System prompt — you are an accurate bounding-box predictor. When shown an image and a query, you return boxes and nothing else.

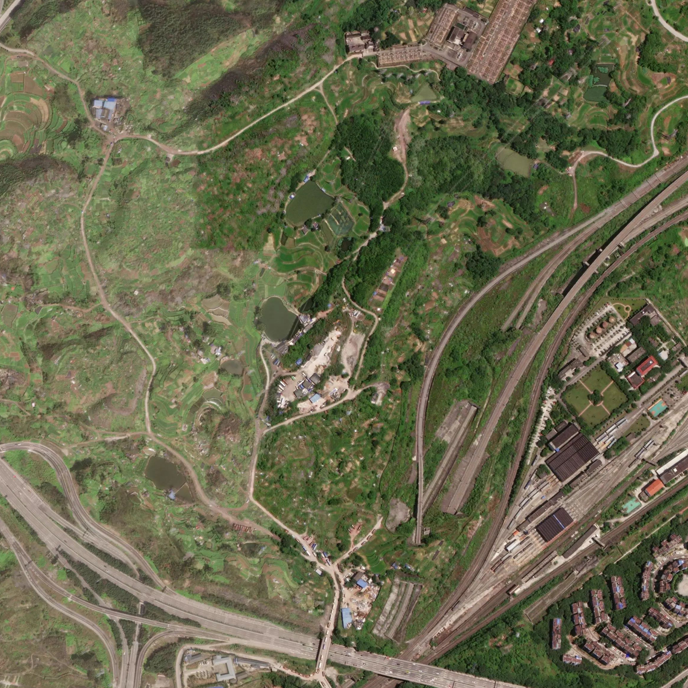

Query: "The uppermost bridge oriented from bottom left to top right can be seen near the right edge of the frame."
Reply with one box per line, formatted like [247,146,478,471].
[443,171,688,517]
